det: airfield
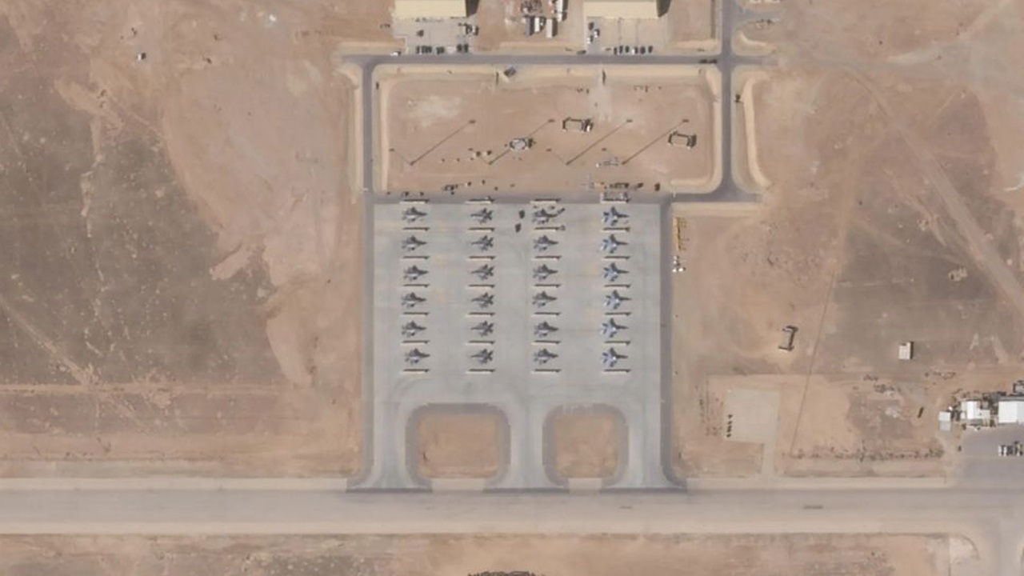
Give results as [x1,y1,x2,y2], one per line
[0,192,1024,576]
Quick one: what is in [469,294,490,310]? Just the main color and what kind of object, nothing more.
gray airplane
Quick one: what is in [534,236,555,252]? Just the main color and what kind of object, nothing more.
gray airplane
